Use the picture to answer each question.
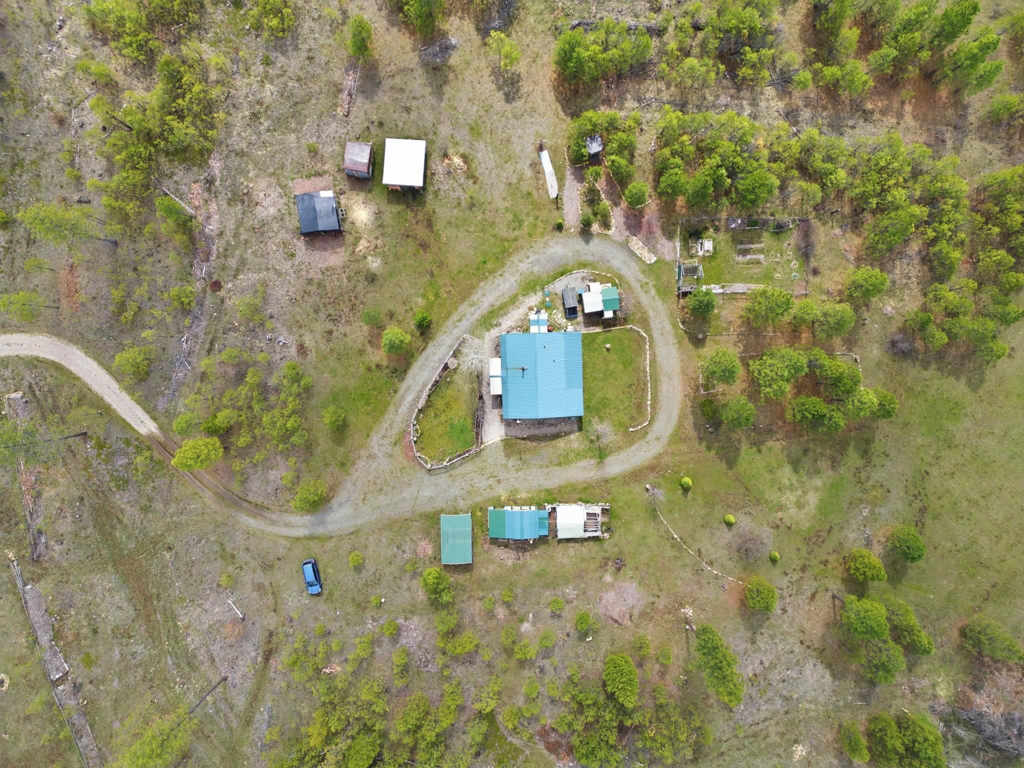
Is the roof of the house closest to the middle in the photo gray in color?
No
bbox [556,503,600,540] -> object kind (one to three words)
greenhouse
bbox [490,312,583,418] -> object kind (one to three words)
house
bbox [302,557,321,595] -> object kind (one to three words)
car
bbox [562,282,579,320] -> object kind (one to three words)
shed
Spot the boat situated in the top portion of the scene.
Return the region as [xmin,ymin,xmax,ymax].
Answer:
[540,150,557,197]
